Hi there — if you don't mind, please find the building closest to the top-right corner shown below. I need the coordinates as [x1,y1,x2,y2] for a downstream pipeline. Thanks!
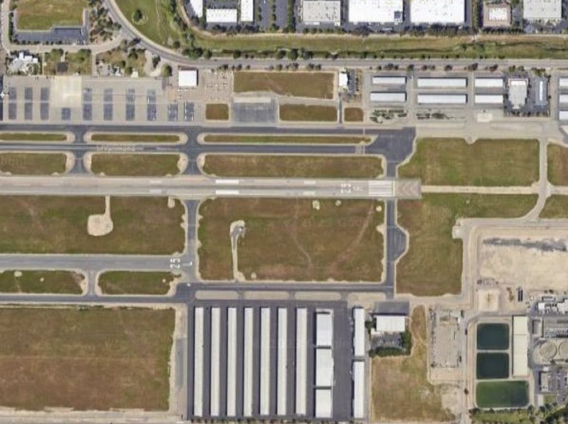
[524,0,563,23]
